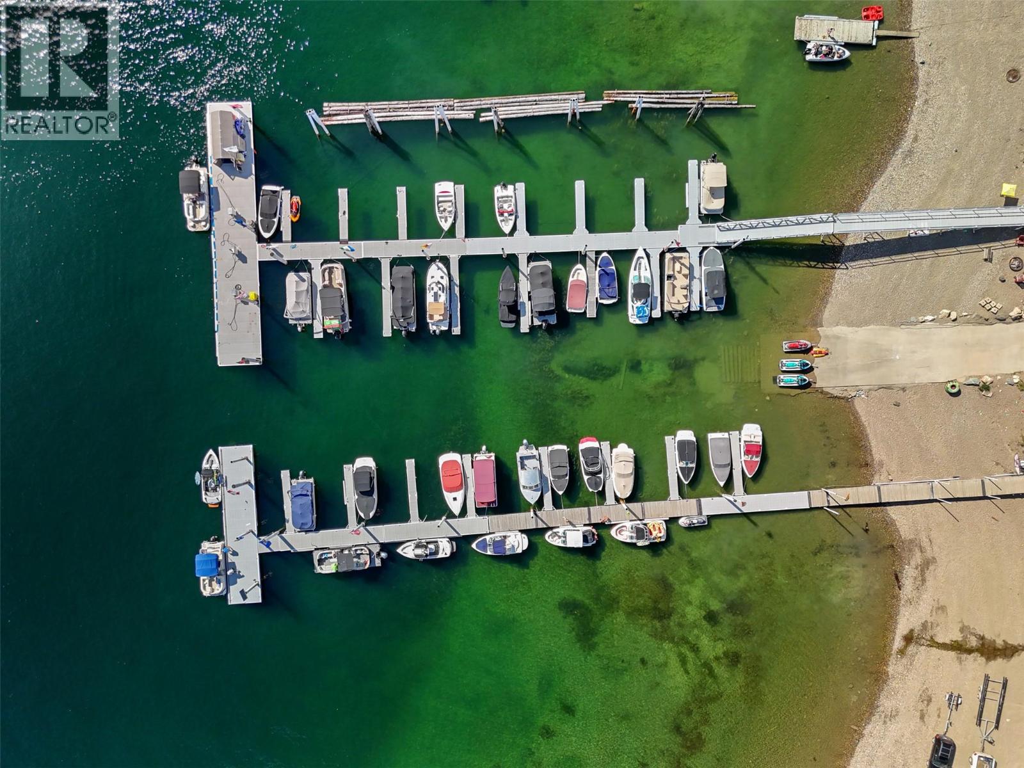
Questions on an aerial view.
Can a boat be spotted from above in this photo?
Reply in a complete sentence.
Yes, there is a boat in the image.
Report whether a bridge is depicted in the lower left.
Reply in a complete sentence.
No, no bridge can be made out in the lower left.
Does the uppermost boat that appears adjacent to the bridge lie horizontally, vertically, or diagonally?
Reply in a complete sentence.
In this picture, the uppermost boat that appears adjacent to the bridge is oriented vertically.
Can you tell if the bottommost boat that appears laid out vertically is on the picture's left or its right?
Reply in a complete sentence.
It is on the left.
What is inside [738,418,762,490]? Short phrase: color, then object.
white boat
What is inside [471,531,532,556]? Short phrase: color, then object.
white boat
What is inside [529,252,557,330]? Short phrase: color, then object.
gray boat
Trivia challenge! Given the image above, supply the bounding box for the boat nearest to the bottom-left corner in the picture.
[196,531,228,596]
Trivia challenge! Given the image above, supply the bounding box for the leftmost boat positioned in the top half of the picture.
[179,157,212,232]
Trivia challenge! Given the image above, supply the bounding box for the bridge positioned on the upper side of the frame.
[715,210,841,245]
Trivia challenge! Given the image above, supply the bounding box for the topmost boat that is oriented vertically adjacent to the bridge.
[699,153,728,225]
